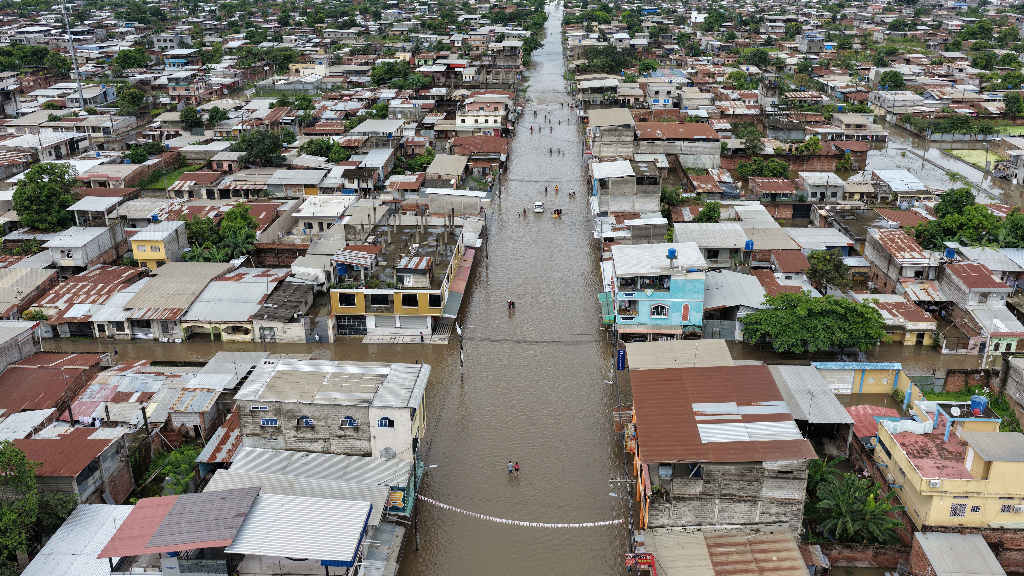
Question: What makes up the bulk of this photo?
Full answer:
Most of the picture is covered by buildings.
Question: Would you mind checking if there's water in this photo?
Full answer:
Yes, water shows up in the scene.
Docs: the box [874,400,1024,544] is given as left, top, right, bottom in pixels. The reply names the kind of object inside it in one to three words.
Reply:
building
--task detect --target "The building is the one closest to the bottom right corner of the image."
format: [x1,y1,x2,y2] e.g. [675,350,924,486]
[911,532,1006,576]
